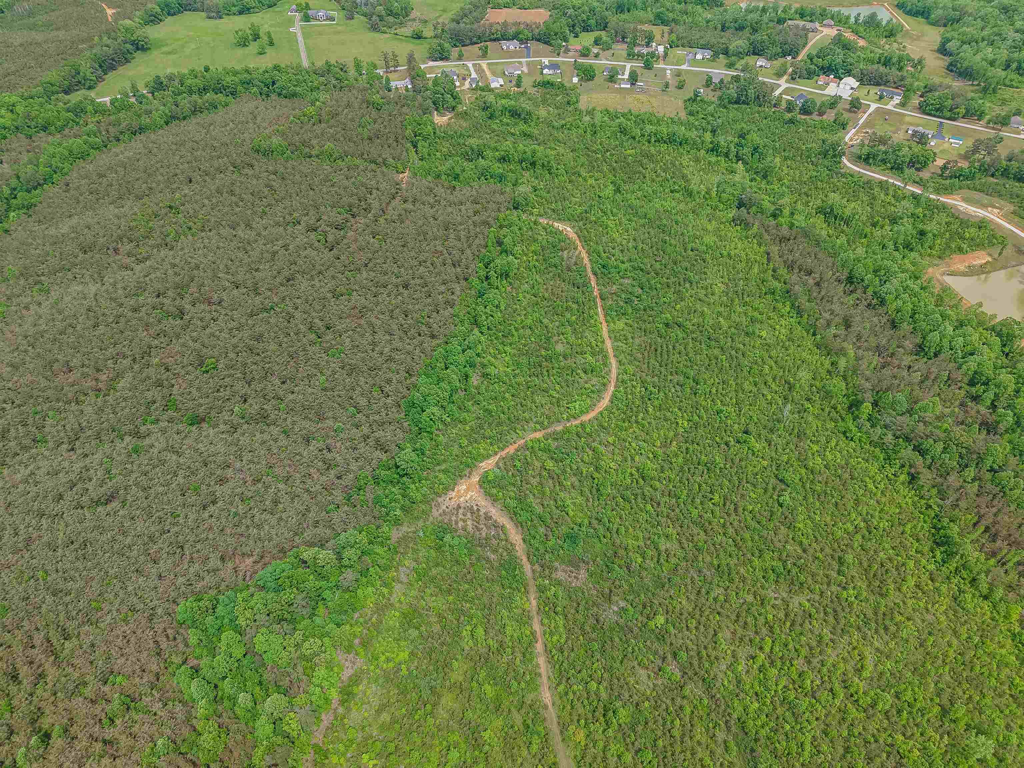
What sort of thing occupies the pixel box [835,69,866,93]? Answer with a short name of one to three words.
house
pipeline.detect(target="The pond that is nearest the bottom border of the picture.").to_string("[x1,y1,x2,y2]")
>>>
[944,265,1024,321]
